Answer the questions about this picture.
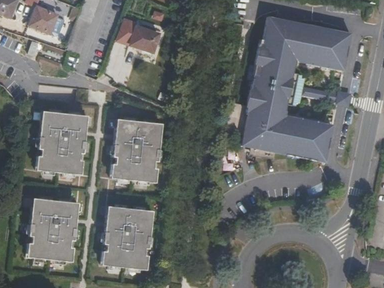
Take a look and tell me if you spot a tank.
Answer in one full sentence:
No, there's no tank here.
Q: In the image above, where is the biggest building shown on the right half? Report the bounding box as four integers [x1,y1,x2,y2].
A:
[241,17,351,163]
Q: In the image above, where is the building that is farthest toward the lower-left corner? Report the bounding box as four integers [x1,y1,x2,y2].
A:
[26,198,81,268]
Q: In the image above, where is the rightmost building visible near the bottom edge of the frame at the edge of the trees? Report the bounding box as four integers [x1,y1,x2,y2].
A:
[100,206,156,276]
